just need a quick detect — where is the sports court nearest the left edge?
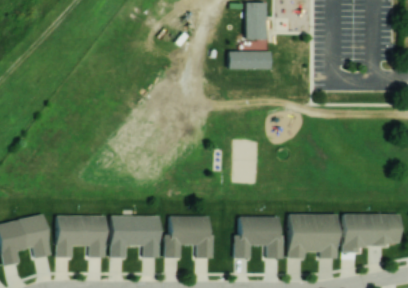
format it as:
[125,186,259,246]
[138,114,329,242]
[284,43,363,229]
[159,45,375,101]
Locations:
[231,140,258,185]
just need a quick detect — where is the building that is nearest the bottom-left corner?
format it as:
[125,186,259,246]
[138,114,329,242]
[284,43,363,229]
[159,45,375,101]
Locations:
[0,214,52,266]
